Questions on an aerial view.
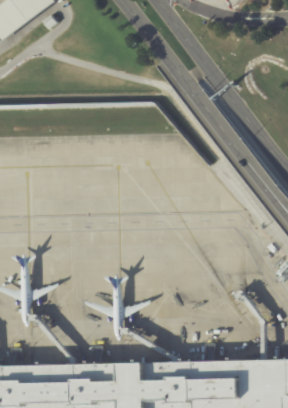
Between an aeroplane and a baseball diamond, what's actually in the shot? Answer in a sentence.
This aerial view contains an aeroplane.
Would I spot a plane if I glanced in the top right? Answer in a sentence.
No, no plane can be made out in the top right.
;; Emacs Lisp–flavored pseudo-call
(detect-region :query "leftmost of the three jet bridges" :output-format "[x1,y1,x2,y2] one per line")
[25,312,80,364]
